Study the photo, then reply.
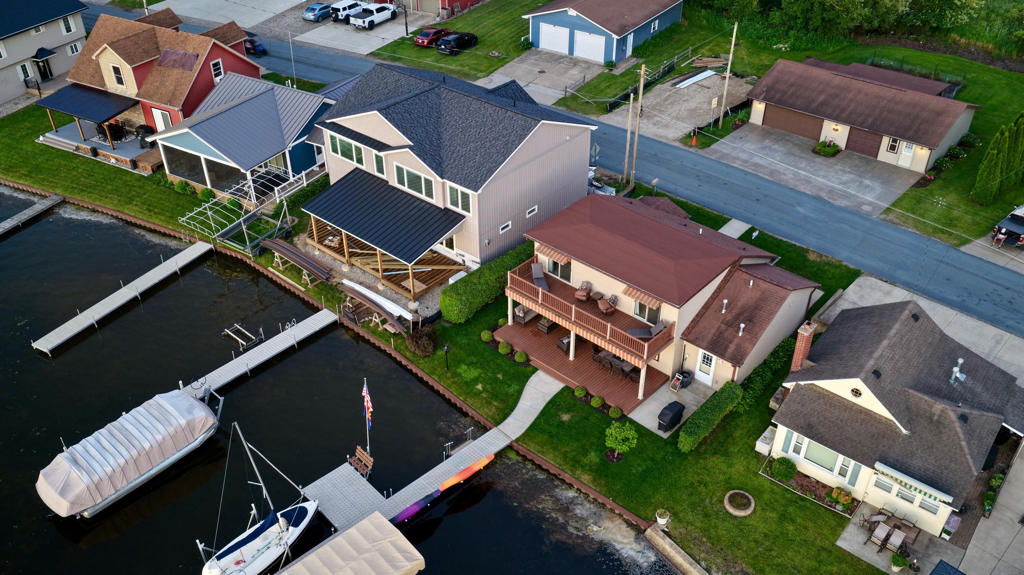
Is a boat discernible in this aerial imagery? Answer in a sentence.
Yes, the image includes a boat.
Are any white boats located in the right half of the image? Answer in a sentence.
No, there is no white boat in the right half of the image.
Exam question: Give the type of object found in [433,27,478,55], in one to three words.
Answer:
car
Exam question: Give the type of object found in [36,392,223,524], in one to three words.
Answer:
boat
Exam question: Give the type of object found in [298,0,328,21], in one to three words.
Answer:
car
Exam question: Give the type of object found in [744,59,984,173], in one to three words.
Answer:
building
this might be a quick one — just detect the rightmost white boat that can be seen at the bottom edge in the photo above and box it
[196,422,320,575]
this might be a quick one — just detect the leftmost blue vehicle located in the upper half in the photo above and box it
[252,30,271,57]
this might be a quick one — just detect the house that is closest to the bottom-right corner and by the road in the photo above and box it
[770,299,1024,537]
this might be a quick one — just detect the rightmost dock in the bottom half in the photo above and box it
[295,428,509,536]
